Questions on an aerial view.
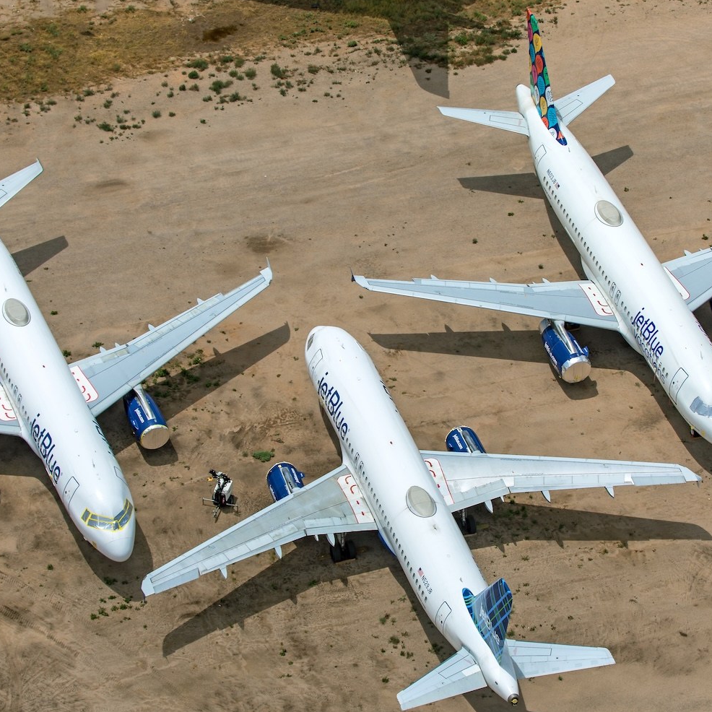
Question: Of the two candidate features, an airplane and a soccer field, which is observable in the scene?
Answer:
airplane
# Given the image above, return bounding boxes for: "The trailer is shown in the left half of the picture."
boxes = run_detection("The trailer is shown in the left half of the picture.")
[202,469,238,516]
